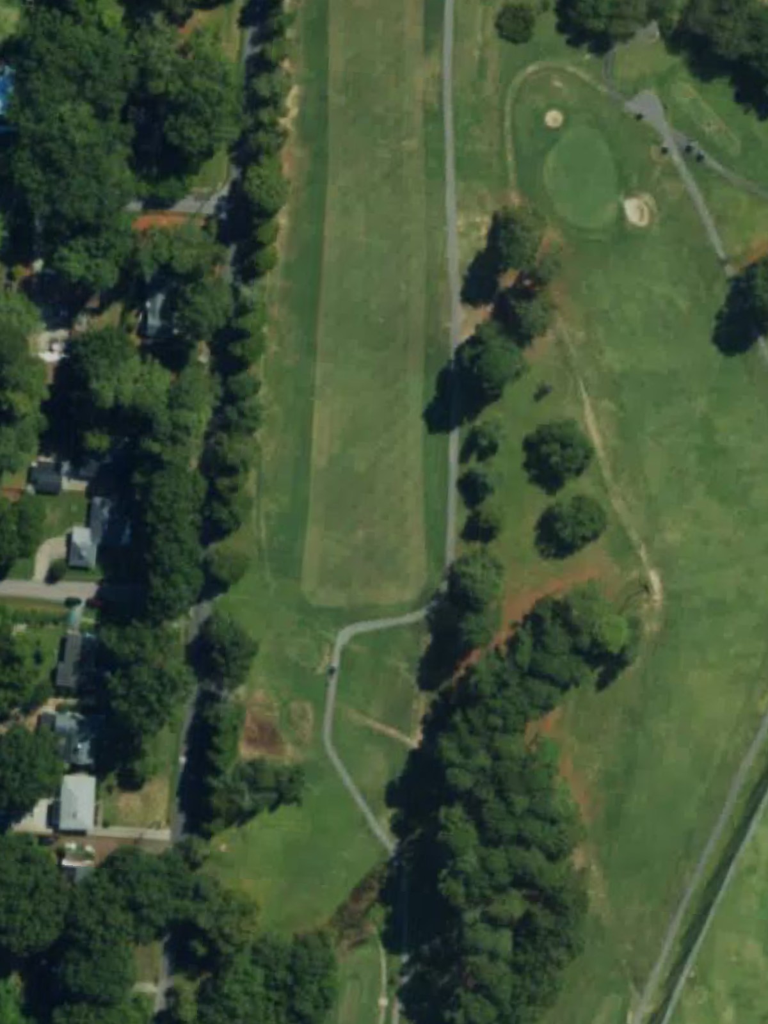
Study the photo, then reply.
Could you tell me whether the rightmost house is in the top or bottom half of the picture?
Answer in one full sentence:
The rightmost house sits in the top half of the picture.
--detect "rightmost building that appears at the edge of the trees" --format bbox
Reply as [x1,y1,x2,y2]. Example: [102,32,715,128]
[146,292,169,337]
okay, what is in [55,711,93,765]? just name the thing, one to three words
house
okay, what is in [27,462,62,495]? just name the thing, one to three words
house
